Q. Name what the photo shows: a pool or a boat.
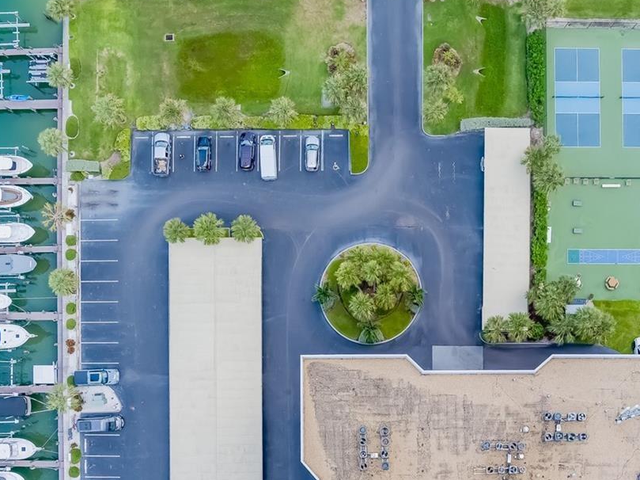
boat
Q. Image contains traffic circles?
Yes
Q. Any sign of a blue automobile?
Yes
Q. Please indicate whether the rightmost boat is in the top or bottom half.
bottom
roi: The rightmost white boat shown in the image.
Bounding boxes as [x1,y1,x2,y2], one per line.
[81,386,121,413]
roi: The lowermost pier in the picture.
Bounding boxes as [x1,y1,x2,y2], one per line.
[0,457,63,470]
